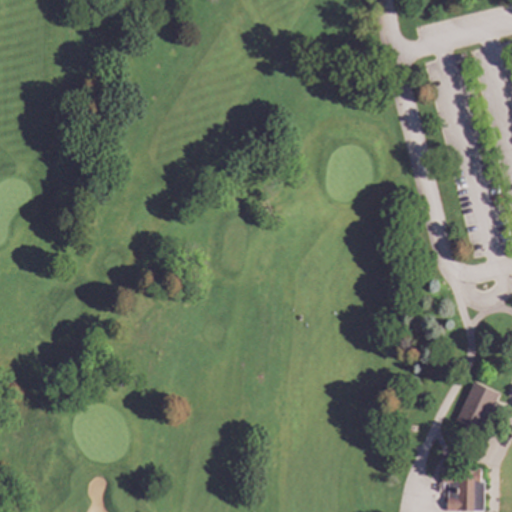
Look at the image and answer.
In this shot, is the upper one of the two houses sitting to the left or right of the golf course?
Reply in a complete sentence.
To the right of the golf course is where the upper one of the two houses appears.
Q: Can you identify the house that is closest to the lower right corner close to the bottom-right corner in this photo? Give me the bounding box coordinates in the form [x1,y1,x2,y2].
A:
[442,468,484,511]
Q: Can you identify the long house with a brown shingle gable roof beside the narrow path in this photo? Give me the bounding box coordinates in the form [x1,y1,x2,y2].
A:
[458,380,498,428]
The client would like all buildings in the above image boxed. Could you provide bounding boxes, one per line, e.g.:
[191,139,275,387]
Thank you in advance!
[442,468,484,511]
[458,380,498,428]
